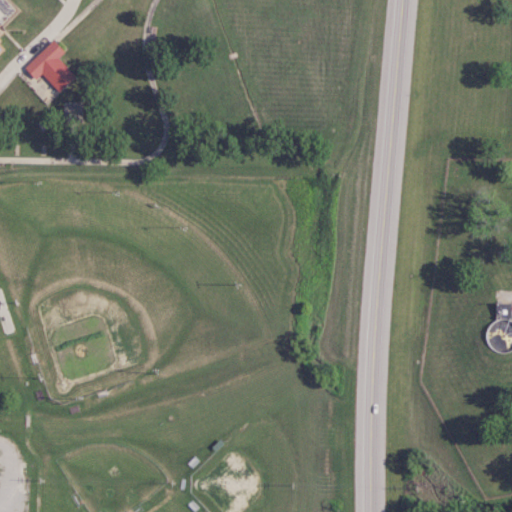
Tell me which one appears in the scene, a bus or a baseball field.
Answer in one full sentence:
This aerial view contains a baseball field.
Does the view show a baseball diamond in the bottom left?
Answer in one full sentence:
Yes, a baseball diamond shows up in the bottom left.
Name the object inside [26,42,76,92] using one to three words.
house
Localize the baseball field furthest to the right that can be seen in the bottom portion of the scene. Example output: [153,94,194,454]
[192,421,296,512]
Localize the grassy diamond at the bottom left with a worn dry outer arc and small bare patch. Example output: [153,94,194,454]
[57,446,169,512]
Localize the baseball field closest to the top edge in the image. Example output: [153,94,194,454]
[8,180,263,402]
